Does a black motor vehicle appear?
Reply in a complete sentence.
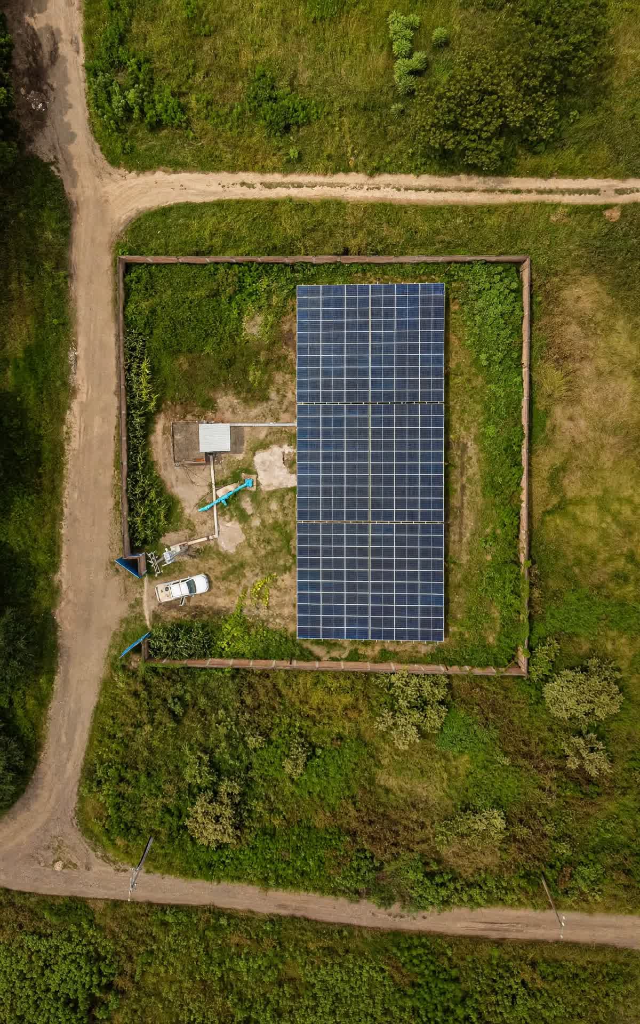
No, there isn't any black motor vehicle down there.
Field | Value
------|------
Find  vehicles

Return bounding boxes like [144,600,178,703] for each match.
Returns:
[154,575,211,606]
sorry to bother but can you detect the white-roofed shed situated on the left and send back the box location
[199,424,231,458]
